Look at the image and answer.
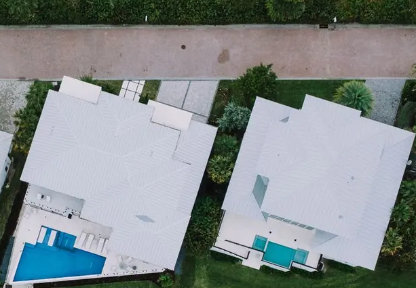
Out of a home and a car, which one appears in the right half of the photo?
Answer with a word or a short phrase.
home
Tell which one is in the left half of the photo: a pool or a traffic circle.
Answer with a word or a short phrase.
pool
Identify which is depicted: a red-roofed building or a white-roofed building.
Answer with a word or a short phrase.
white-roofed building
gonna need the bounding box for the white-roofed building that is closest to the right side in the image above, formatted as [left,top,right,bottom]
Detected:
[223,94,413,270]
